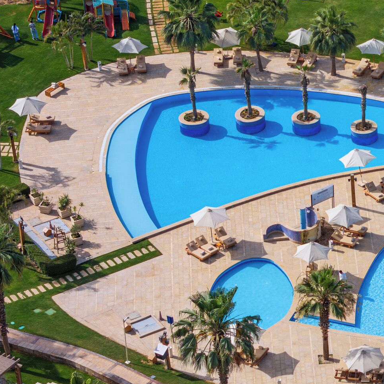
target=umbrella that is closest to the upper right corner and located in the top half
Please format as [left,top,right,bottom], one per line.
[355,36,384,70]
